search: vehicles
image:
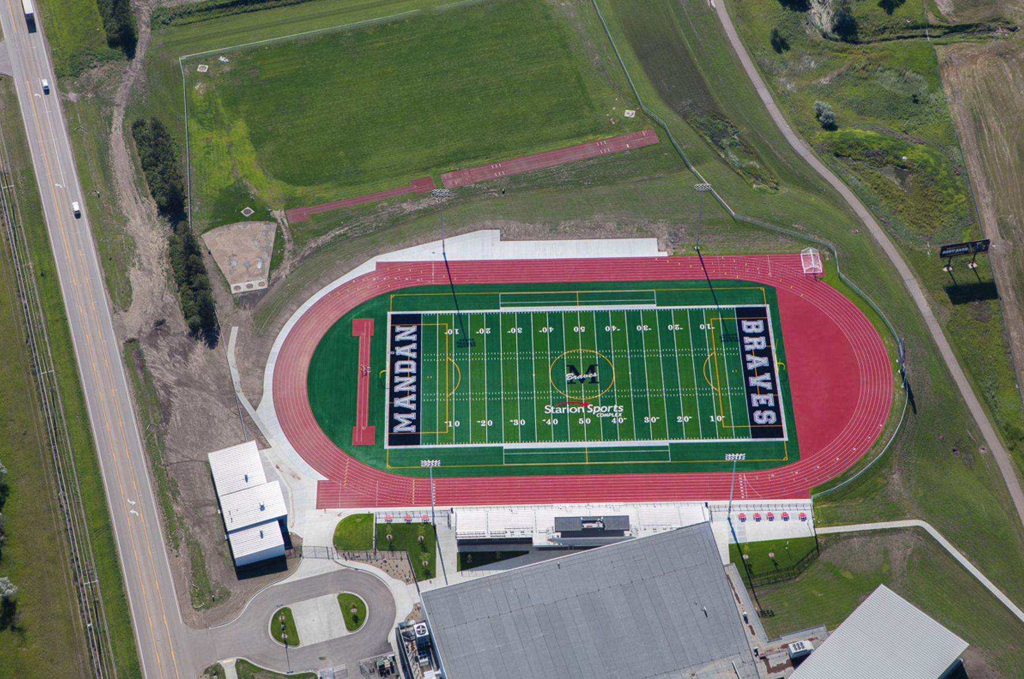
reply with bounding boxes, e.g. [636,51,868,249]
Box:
[71,202,80,216]
[22,0,35,21]
[41,80,49,91]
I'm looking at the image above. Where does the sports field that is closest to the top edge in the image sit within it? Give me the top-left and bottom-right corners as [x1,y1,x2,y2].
[184,0,661,226]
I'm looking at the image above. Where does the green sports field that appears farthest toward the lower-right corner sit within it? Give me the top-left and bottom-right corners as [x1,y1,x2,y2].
[307,278,799,478]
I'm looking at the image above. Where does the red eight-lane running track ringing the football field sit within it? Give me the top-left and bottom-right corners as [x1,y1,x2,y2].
[272,253,893,509]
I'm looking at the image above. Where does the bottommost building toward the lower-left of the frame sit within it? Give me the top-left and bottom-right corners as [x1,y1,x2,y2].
[230,521,285,565]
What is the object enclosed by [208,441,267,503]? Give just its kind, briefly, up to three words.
building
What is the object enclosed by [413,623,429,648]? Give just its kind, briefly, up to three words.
cooling tower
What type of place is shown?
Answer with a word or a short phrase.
sports ground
